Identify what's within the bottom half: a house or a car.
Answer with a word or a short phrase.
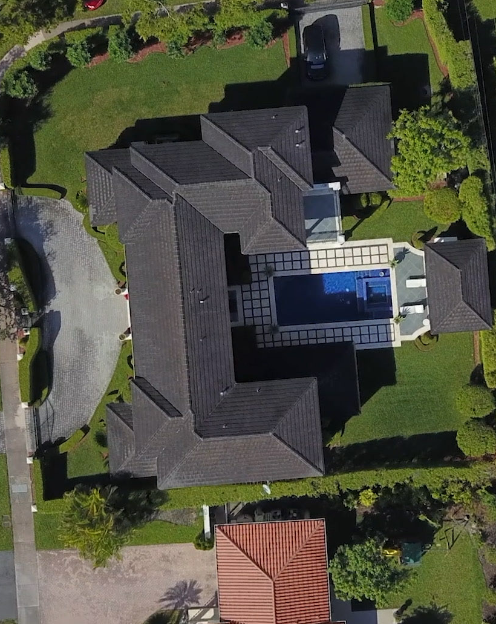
house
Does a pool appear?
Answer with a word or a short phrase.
Yes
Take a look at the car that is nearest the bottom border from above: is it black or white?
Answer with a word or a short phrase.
black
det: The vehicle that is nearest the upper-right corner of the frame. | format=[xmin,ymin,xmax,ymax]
[301,20,331,83]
